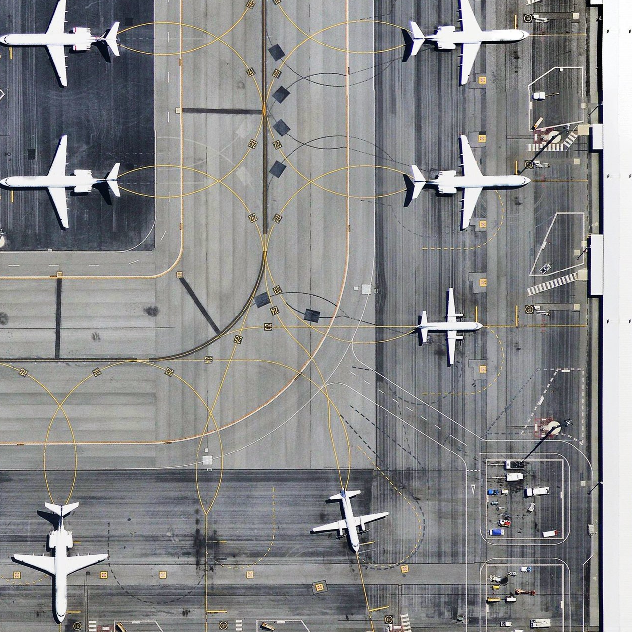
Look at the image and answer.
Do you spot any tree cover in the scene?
No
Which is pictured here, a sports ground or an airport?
airport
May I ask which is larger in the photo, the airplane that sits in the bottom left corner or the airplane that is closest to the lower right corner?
the airplane that sits in the bottom left corner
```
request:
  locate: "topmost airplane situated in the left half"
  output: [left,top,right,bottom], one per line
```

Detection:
[0,0,121,87]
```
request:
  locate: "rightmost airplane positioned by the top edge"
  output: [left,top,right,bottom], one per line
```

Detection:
[409,0,529,82]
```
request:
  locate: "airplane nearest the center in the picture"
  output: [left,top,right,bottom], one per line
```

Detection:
[419,288,482,364]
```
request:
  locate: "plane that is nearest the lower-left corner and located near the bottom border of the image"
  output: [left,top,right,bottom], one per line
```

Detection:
[14,502,109,623]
